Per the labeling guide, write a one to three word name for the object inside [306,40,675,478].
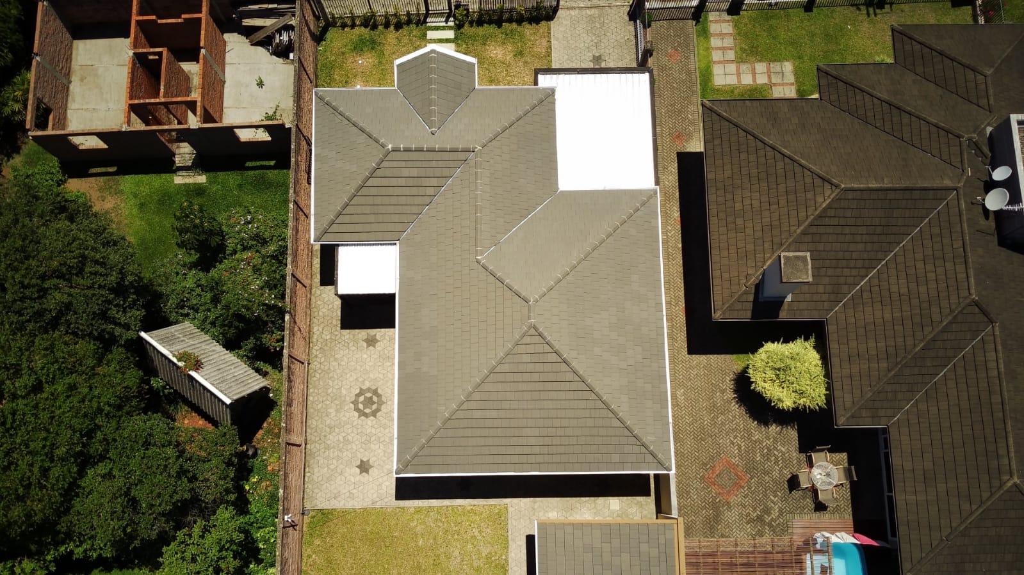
house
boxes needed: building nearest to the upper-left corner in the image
[22,0,296,176]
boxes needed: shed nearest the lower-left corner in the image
[138,322,273,427]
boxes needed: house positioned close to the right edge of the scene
[697,21,1024,575]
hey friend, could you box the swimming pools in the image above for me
[826,544,869,575]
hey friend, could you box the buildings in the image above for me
[306,40,675,478]
[534,513,690,575]
[138,322,273,427]
[697,21,1024,575]
[22,0,296,176]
